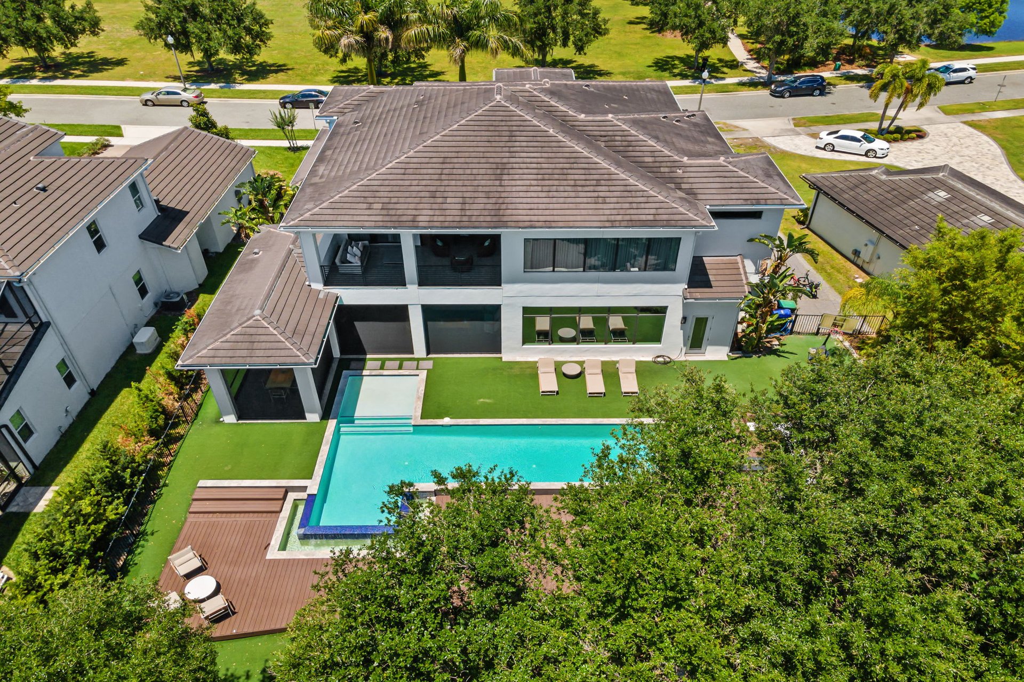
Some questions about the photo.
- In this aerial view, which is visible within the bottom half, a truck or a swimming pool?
swimming pool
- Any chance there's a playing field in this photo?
No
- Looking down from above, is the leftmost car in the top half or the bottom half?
top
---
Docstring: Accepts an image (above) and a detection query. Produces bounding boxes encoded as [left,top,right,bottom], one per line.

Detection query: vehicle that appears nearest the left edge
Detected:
[141,78,208,104]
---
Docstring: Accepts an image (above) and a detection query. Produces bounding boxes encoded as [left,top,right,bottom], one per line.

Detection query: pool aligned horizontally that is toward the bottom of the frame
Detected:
[194,370,666,549]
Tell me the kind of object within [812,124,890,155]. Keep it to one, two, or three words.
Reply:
car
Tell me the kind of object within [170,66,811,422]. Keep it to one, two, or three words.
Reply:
house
